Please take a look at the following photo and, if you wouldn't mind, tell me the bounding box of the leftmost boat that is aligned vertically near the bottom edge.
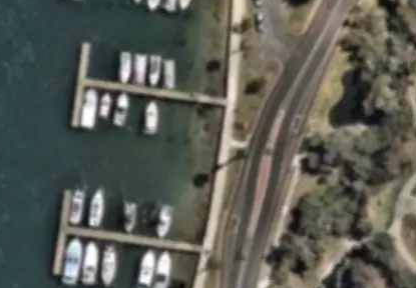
[63,238,81,287]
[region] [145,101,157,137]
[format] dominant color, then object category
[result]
white boat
